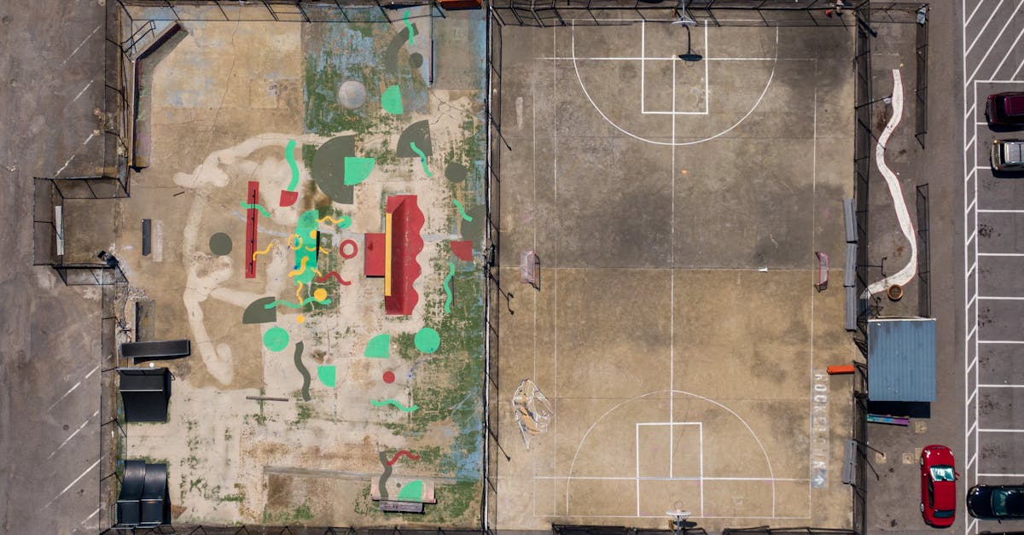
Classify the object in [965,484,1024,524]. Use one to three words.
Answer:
car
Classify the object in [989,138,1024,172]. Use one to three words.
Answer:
car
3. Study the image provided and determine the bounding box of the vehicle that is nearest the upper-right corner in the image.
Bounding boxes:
[984,92,1024,128]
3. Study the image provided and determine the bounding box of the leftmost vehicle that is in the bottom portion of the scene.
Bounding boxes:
[920,443,963,528]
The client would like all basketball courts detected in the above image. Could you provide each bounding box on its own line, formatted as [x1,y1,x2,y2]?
[488,9,855,529]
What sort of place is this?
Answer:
sports ground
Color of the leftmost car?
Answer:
red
